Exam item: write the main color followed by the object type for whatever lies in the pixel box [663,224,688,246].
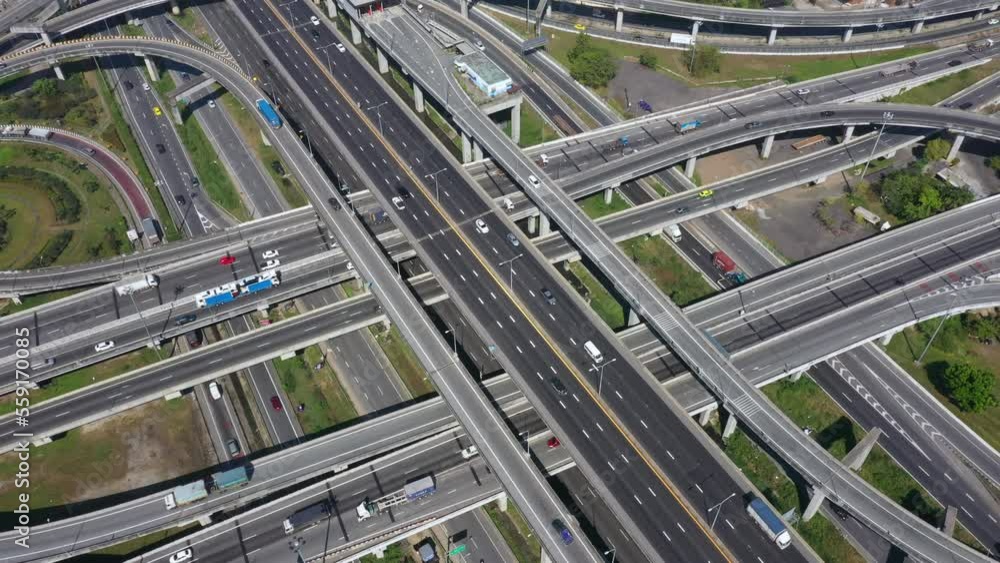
white truck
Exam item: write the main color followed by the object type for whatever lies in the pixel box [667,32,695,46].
white vehicle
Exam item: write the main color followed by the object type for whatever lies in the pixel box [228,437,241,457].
gray vehicle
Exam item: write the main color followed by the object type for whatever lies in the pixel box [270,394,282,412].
red vehicle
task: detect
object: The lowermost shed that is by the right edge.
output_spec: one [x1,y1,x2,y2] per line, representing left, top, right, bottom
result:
[940,163,975,185]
